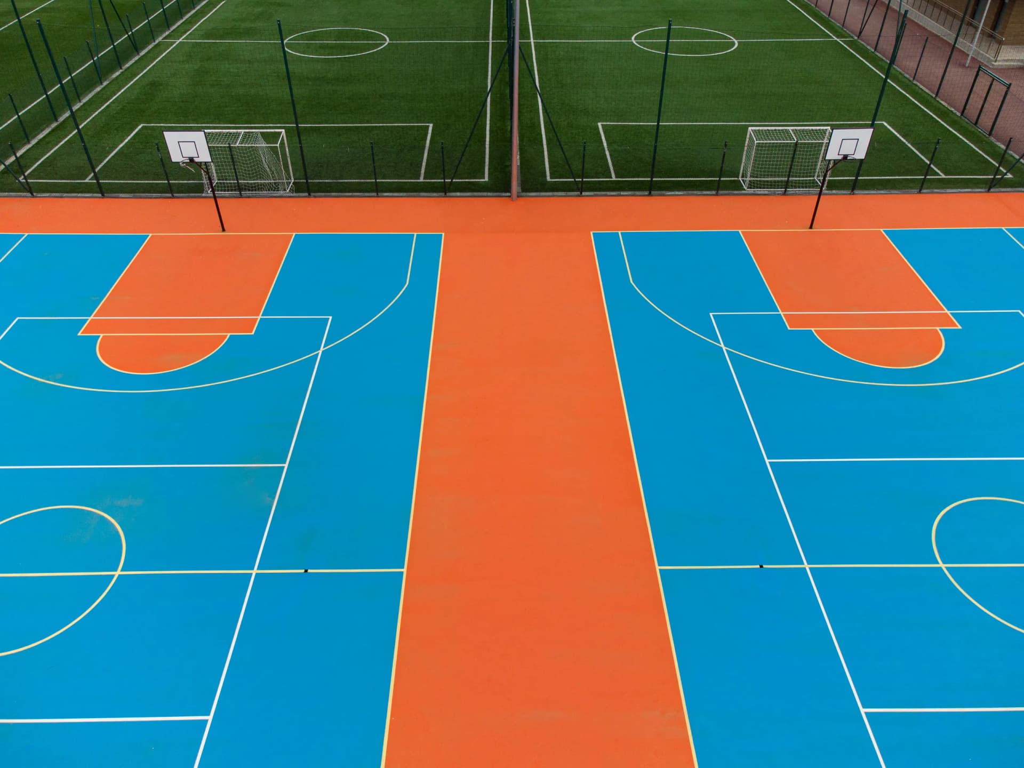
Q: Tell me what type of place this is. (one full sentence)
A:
What you see here is a sports ground.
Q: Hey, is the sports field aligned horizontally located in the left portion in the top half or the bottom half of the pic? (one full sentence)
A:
The sports field aligned horizontally located in the left portion is in the top half of the image.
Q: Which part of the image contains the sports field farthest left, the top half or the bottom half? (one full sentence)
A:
The sports field farthest left is in the top half of the image.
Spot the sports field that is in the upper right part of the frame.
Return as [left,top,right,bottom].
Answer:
[516,0,1024,193]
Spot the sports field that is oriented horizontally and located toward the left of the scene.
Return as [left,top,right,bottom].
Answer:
[0,0,510,193]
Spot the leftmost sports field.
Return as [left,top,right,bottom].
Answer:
[0,0,200,164]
